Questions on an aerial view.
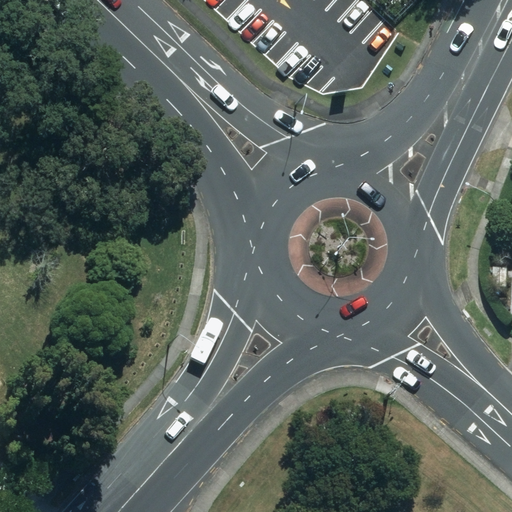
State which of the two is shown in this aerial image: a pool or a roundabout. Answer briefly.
roundabout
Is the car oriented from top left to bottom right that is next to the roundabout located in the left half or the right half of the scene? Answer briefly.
right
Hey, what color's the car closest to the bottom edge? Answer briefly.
white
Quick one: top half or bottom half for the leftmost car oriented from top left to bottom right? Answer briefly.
top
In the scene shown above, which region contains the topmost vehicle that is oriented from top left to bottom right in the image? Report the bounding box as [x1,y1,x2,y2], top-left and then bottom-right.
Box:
[210,83,237,109]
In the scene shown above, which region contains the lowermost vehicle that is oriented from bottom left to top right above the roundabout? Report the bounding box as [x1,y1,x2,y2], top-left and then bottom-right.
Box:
[289,160,316,184]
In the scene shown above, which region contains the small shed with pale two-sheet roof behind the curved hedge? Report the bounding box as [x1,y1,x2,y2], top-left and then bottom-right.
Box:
[492,266,508,288]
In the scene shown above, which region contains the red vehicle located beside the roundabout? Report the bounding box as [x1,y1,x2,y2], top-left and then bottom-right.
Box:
[340,296,367,319]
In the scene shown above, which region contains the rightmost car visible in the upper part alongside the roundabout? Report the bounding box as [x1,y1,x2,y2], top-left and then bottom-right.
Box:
[357,182,384,208]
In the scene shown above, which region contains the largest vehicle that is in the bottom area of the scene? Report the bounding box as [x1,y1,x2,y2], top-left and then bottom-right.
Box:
[188,318,223,366]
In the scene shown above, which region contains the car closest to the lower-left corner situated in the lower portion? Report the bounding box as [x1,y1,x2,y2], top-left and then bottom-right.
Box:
[165,412,192,441]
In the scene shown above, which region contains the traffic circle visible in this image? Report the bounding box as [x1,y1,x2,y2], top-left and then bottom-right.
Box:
[290,198,387,296]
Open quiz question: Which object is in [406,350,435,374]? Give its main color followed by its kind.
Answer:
white car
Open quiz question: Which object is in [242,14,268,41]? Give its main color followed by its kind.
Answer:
red car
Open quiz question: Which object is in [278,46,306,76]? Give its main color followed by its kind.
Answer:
white car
